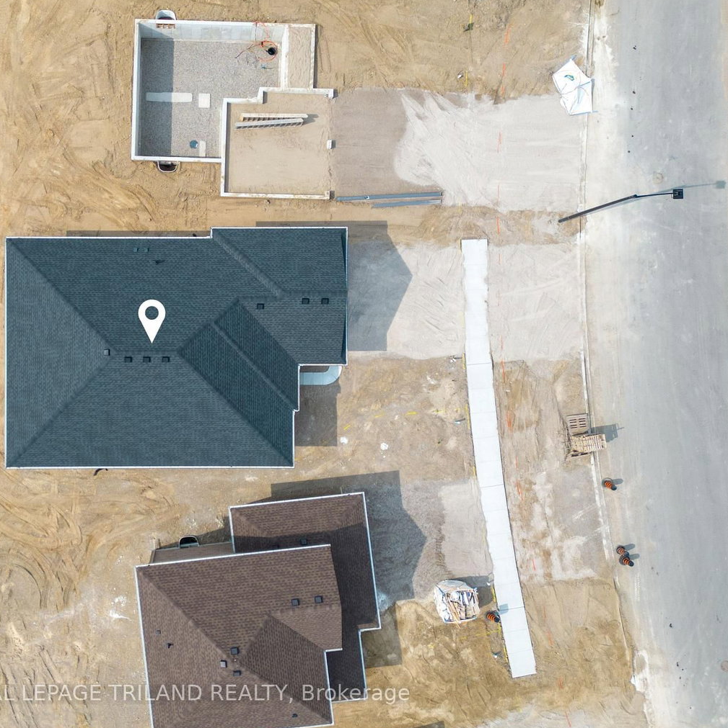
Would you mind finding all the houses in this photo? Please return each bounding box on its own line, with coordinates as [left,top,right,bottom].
[134,490,382,728]
[5,225,349,476]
